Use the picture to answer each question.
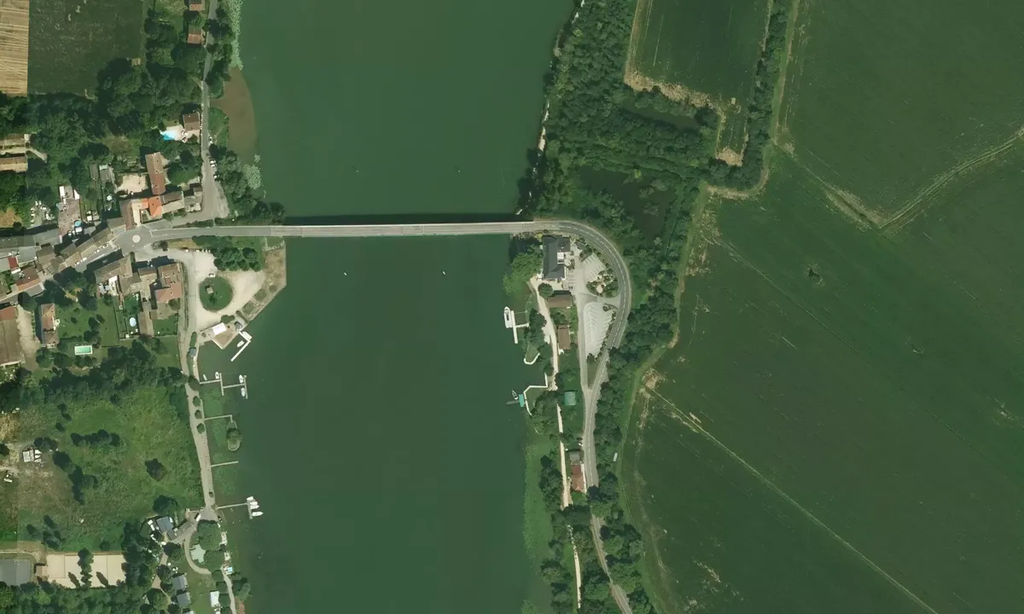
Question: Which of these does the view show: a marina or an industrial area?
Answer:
marina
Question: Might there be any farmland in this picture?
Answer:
Yes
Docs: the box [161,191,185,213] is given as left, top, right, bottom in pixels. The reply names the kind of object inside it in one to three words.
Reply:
house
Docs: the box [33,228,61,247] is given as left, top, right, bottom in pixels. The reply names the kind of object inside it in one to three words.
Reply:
building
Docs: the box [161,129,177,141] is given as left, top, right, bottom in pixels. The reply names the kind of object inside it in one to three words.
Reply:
swimming pool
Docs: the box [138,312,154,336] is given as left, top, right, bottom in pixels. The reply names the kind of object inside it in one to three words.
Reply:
house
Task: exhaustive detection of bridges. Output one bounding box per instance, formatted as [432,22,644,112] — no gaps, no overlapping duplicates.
[284,222,516,237]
